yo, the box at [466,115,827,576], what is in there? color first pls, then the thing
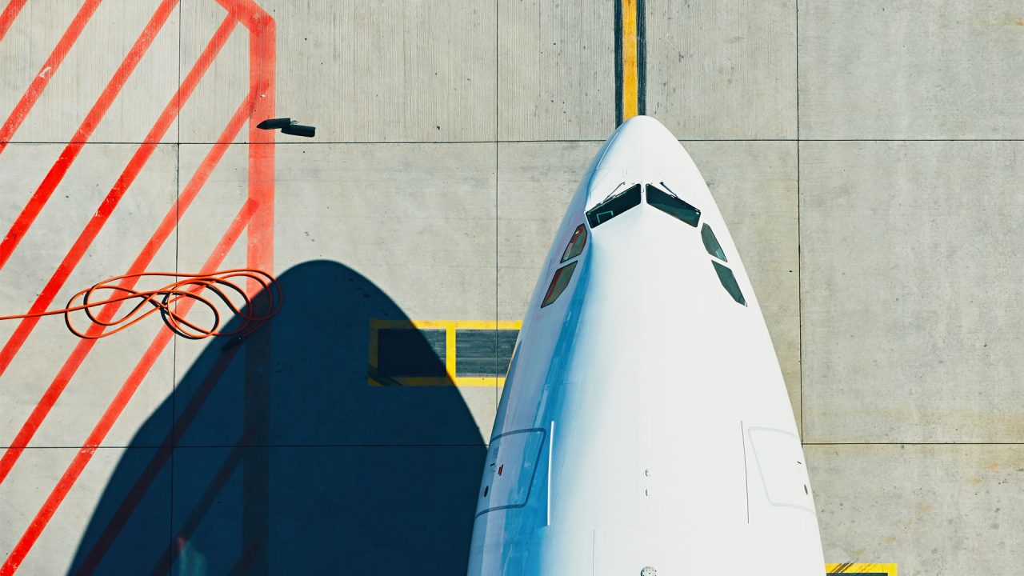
white airplane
